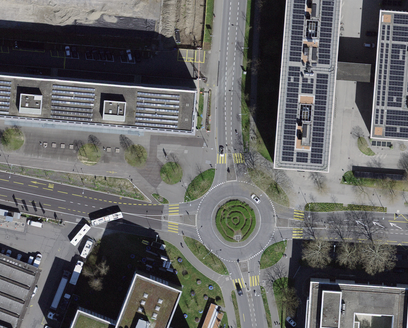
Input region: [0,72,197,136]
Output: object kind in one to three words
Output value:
building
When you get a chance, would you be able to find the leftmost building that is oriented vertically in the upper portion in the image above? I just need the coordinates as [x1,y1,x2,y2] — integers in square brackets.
[273,0,342,172]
